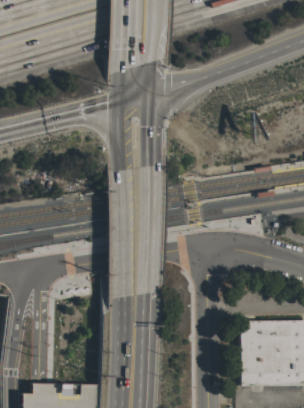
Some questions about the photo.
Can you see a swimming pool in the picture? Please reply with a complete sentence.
No, the frame has no swimming pool in it.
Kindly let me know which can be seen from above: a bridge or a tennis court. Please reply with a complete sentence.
The one in the frame is a bridge.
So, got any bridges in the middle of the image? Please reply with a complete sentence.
Yes, a bridge is visible in the middle of the image.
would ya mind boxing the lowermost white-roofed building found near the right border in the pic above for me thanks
[242,320,304,392]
